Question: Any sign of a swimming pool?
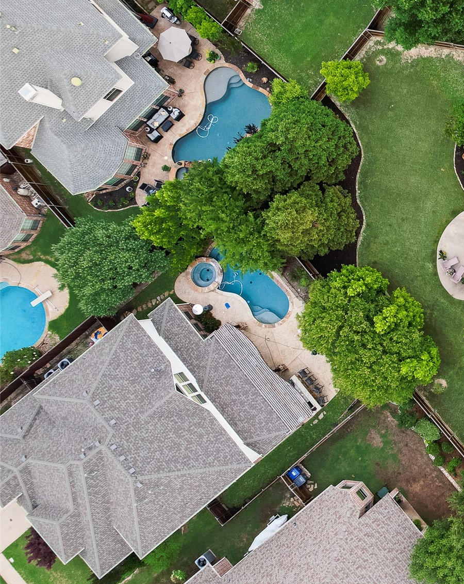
Yes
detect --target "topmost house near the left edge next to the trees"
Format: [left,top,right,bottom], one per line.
[0,0,177,195]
